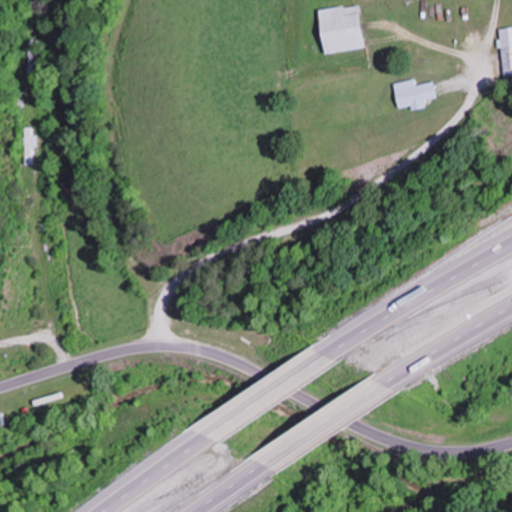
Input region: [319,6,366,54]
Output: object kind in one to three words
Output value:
barn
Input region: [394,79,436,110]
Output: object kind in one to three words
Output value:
house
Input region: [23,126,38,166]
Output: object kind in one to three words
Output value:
house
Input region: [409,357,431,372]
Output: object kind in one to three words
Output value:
vehicle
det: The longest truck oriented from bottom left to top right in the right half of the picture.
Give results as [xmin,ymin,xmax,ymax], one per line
[391,285,429,310]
